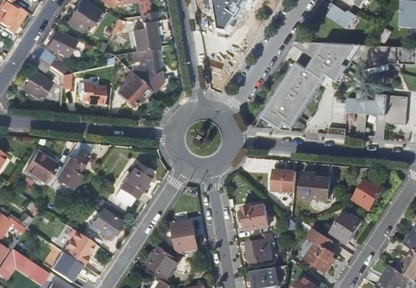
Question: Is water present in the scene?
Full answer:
No, the picture contains no water.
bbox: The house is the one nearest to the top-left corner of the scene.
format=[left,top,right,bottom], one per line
[0,0,28,33]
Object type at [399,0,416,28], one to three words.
house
